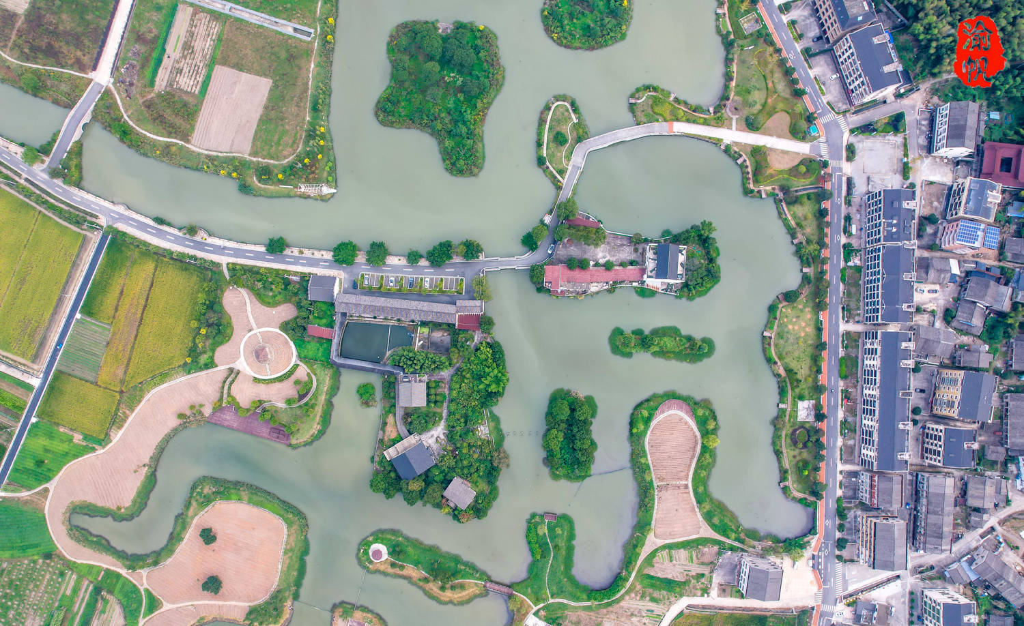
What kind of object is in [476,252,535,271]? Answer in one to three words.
bridge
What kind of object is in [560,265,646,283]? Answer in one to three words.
building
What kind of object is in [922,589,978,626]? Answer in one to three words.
house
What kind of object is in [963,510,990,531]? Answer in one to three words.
shed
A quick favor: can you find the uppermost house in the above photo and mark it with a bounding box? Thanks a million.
[808,0,878,45]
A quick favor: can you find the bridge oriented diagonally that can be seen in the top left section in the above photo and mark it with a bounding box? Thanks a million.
[46,79,105,167]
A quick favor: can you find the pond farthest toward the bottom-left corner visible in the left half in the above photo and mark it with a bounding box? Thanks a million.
[342,322,414,362]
